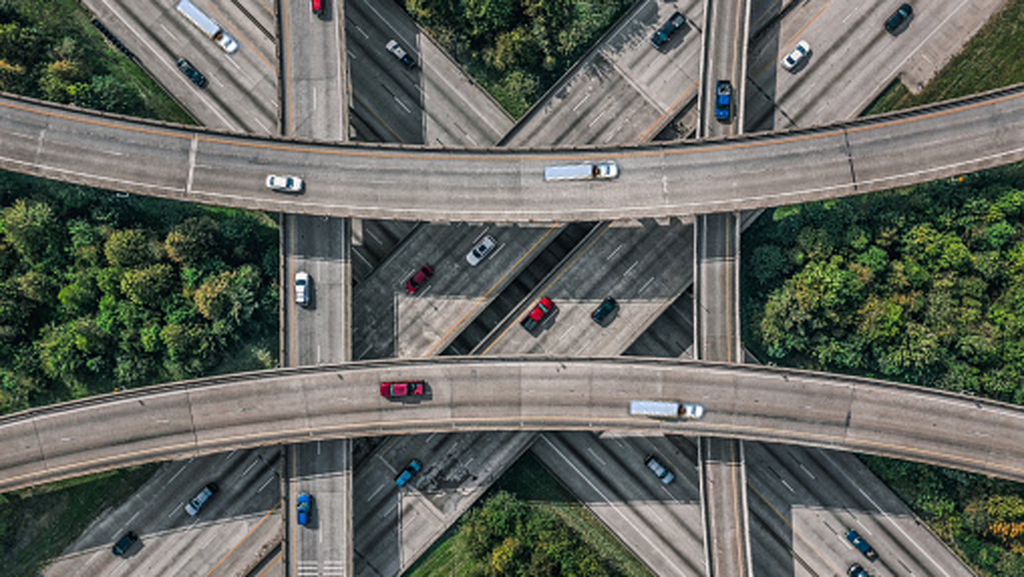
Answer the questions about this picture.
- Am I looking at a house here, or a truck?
truck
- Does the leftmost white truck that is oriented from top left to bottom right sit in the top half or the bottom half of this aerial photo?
top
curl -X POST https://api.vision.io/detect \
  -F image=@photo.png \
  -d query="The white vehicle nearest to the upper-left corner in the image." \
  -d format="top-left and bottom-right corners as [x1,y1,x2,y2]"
[176,0,239,55]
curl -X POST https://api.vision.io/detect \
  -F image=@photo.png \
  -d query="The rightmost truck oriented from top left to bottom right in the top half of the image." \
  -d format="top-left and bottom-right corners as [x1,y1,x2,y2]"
[385,37,419,71]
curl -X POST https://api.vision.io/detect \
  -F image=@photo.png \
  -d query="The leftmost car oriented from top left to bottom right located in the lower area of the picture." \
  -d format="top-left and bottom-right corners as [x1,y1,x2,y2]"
[643,454,675,485]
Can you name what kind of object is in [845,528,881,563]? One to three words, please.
truck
